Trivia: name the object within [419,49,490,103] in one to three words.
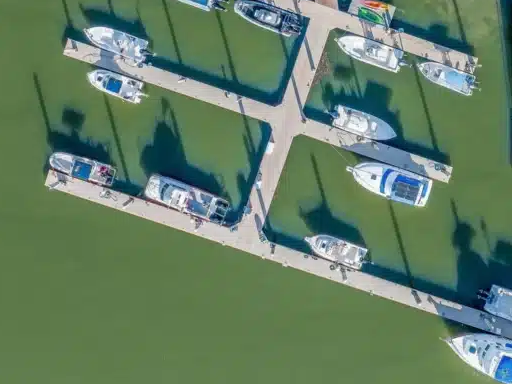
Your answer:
boat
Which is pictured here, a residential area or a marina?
marina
